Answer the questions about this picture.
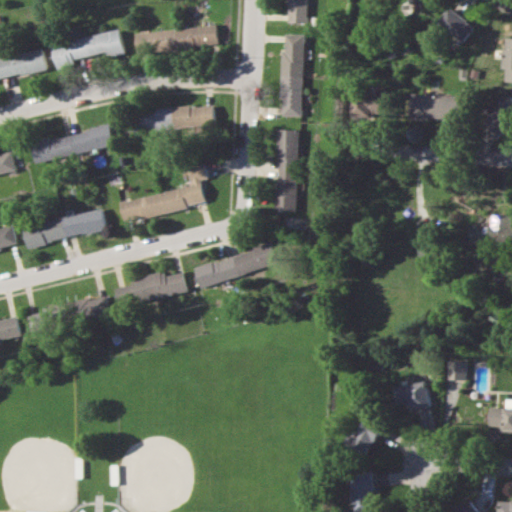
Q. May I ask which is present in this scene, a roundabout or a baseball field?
baseball field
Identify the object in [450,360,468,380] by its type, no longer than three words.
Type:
building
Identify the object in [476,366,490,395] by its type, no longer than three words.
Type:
swimming pool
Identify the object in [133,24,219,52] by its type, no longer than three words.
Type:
house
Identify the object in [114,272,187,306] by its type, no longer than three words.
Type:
house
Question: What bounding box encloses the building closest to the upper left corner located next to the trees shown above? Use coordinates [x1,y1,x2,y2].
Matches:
[0,51,48,80]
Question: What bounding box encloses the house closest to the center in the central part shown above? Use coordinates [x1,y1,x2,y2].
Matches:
[194,246,276,288]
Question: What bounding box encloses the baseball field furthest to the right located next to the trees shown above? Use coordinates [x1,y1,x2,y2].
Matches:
[76,318,328,512]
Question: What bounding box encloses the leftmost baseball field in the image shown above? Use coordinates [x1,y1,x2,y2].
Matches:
[0,376,79,512]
